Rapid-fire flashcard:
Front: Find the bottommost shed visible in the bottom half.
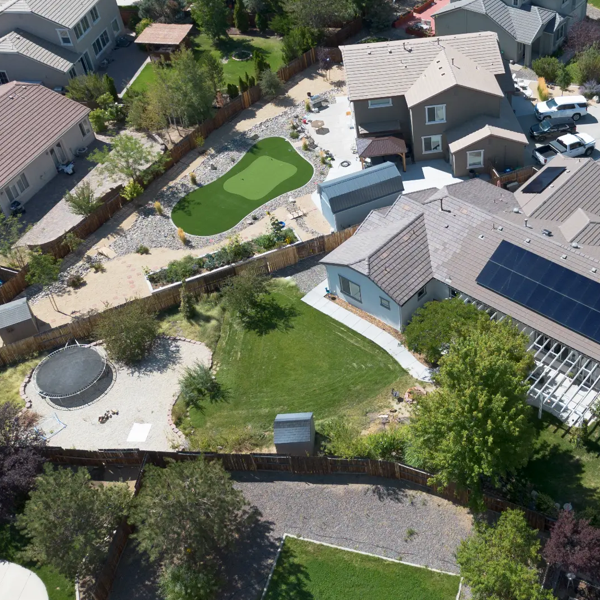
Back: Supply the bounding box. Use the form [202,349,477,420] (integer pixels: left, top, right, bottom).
[272,412,320,465]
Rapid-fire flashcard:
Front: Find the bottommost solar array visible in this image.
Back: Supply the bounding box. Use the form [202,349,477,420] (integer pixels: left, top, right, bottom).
[476,240,600,343]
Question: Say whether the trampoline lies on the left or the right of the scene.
left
